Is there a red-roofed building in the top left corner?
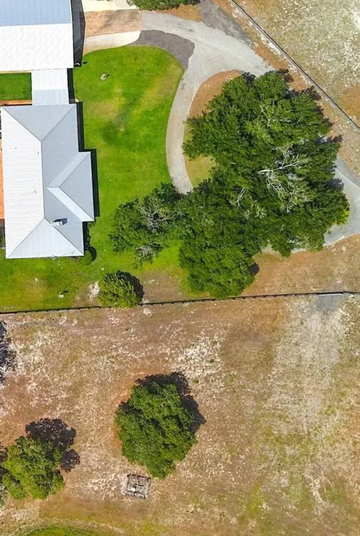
No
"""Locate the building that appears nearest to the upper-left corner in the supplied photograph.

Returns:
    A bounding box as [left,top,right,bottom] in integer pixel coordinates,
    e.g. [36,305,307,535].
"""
[0,0,74,70]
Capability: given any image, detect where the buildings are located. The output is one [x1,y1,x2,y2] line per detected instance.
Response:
[0,0,74,70]
[0,103,94,259]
